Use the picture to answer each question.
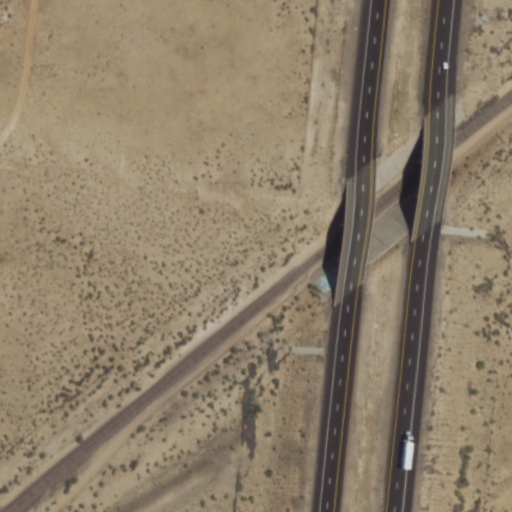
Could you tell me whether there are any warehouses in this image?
No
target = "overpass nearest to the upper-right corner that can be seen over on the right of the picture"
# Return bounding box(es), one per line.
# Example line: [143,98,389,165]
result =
[410,94,456,242]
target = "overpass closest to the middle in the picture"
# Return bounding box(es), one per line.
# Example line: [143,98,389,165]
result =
[332,158,376,307]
